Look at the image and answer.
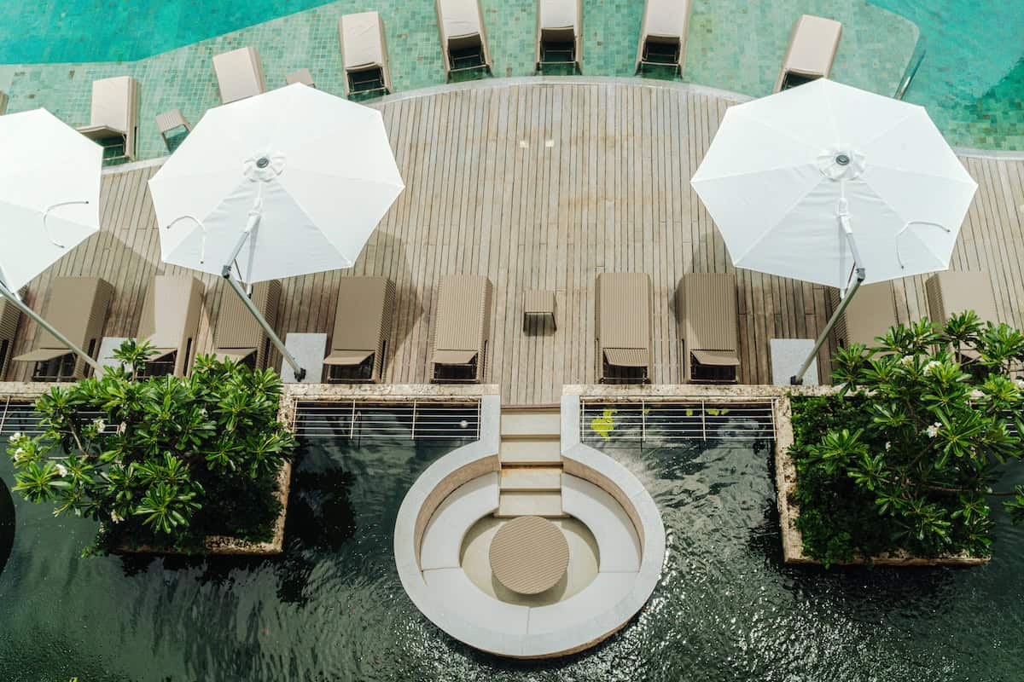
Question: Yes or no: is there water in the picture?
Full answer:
Yes, there's water in this view.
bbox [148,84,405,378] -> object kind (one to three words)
umbrella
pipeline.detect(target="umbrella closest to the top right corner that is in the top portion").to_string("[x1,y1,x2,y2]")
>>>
[693,76,975,384]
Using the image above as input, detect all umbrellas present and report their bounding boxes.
[148,84,405,378]
[693,76,975,384]
[0,103,109,375]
